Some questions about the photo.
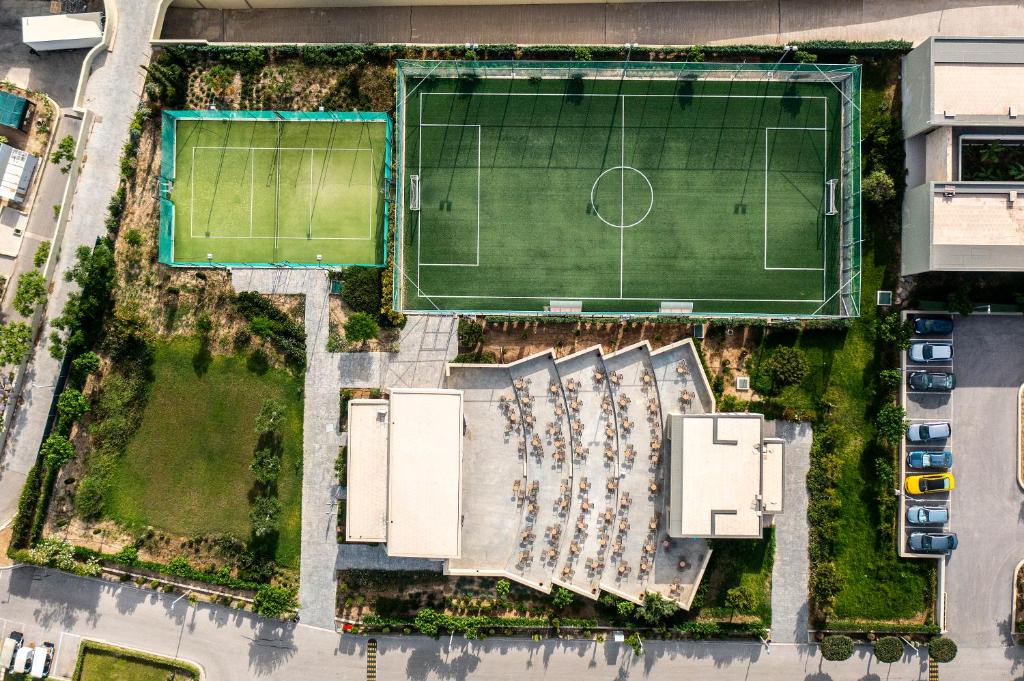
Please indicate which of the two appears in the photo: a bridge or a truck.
truck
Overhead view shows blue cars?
Yes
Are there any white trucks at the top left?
Yes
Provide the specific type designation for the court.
tennis court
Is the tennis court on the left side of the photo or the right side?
left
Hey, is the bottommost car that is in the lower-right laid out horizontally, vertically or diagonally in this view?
horizontally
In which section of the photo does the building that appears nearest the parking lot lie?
top right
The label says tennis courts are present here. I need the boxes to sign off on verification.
[172,121,388,268]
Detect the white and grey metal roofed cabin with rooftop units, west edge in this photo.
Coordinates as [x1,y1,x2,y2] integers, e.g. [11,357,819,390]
[0,139,41,207]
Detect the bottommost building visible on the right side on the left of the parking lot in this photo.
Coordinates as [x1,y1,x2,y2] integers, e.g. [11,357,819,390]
[660,412,785,539]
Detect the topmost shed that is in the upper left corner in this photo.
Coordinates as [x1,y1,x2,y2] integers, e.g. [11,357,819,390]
[0,91,31,132]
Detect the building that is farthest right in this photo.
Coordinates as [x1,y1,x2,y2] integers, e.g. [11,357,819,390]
[901,37,1024,279]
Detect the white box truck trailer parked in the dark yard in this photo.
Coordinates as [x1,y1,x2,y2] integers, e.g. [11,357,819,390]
[23,12,116,55]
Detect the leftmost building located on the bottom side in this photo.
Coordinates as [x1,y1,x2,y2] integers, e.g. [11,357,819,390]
[346,388,469,559]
